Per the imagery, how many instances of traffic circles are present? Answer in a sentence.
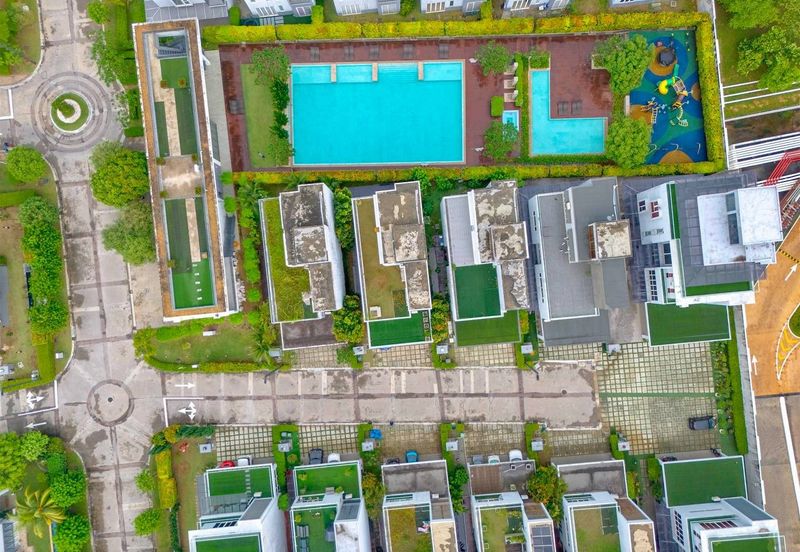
I count 2 traffic circles.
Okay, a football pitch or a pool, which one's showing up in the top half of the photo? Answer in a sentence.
Visible in the top half of the photo is a pool.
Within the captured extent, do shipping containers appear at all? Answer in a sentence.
No, the scene contains no shipping container.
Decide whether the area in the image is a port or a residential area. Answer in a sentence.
This looks like a residential area.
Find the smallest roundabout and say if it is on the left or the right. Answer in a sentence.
The smallest roundabout sits on the left side.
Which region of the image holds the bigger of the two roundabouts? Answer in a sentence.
The bigger of the two roundabouts is in the top left part of the image.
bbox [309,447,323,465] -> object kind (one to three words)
car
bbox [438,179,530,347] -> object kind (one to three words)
house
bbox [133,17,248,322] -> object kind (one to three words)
building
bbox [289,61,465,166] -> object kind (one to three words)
swimming pool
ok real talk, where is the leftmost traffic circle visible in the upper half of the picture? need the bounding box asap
[32,73,109,149]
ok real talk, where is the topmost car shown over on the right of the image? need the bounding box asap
[688,415,716,430]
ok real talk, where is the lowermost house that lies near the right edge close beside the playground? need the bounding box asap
[635,170,783,347]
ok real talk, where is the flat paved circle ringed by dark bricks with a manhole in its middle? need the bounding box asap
[86,379,134,426]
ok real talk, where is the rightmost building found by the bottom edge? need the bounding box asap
[652,451,785,552]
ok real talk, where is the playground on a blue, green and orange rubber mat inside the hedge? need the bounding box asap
[624,30,701,166]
